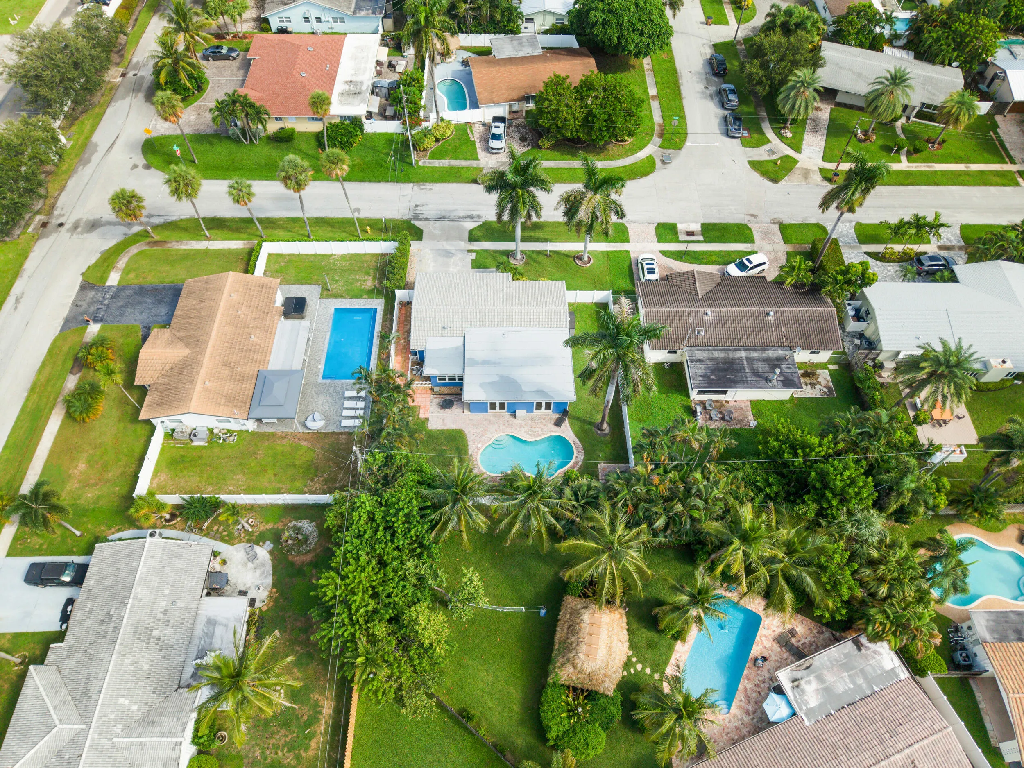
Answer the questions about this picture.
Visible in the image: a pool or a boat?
pool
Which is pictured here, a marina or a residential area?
residential area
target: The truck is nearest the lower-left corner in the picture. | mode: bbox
[6,559,88,595]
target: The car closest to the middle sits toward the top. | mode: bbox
[638,250,664,281]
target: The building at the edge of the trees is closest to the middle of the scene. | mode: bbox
[411,272,576,413]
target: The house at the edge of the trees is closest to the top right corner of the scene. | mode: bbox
[990,44,1024,106]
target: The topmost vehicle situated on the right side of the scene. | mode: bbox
[709,50,731,73]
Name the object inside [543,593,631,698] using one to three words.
shed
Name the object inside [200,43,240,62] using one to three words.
car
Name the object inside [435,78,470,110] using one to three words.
swimming pool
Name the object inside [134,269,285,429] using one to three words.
house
